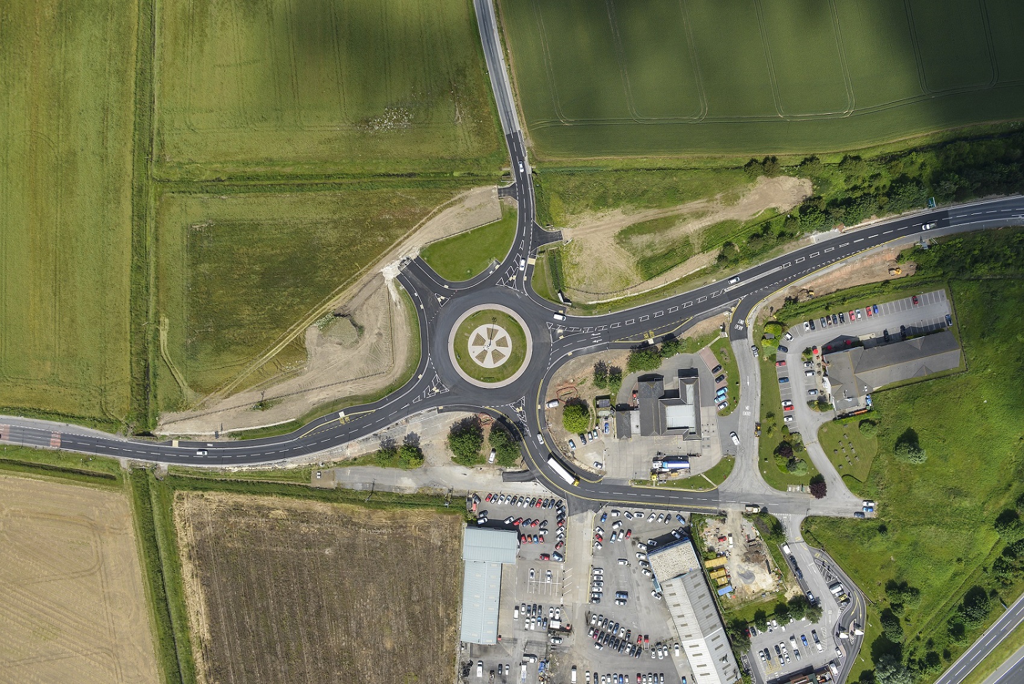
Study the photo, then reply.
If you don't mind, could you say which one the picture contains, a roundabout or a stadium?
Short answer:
roundabout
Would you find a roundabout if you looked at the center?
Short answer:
Yes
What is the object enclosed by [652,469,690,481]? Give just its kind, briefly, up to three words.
vehicle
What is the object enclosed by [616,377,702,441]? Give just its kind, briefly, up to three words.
gas station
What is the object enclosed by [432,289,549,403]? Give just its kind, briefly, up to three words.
roundabout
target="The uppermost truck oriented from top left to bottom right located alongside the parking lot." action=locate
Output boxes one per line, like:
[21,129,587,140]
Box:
[546,456,580,487]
